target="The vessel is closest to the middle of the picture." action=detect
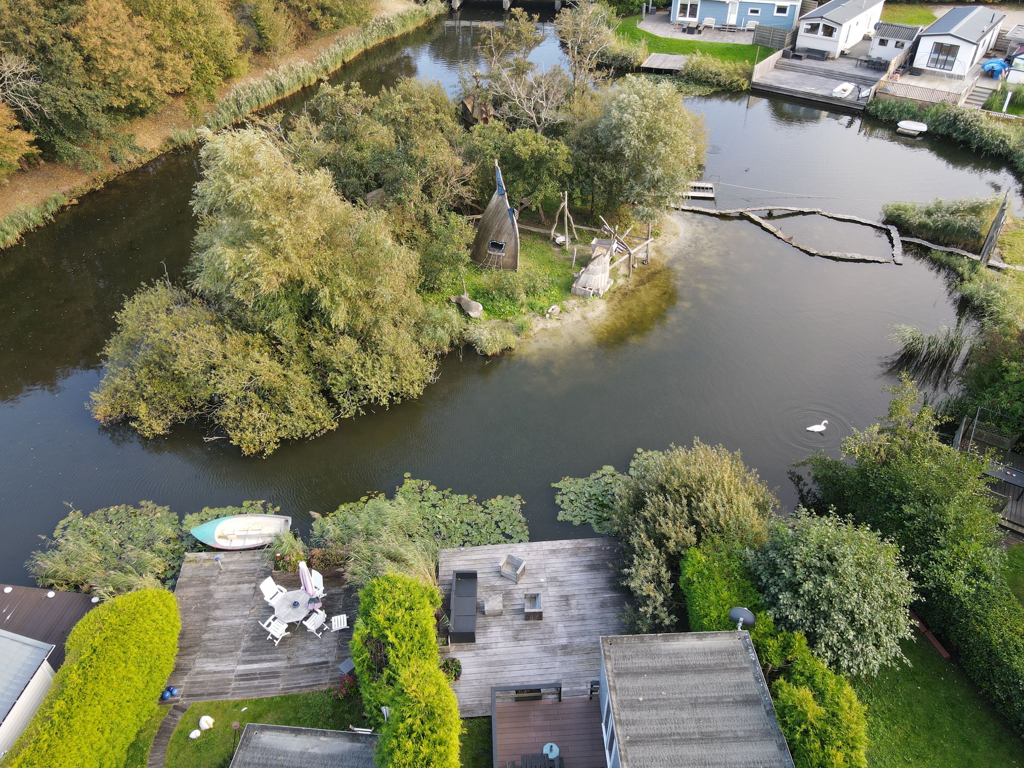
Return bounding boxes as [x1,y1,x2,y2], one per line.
[471,159,520,273]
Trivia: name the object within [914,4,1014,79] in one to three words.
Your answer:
house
